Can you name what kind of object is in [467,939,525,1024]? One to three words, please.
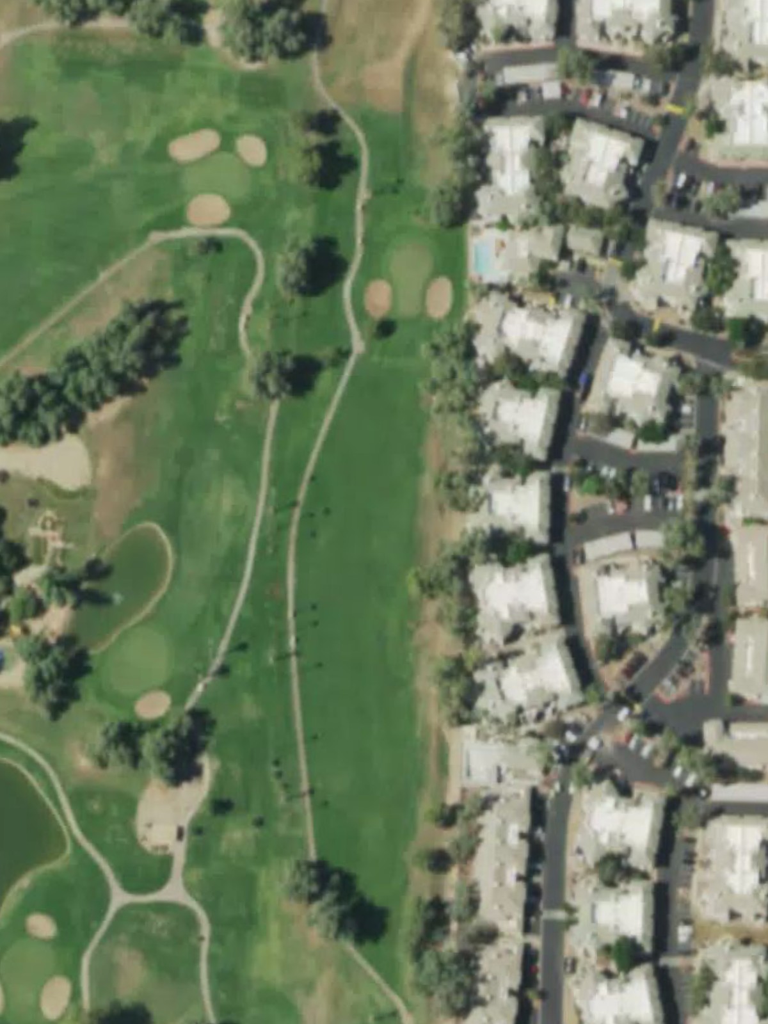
building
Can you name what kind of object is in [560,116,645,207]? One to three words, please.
building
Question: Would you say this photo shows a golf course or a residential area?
golf course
